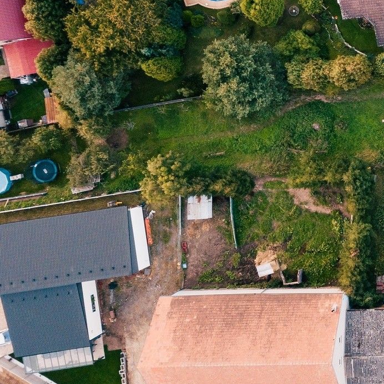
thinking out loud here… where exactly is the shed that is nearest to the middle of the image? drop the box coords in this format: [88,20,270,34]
[187,194,217,220]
